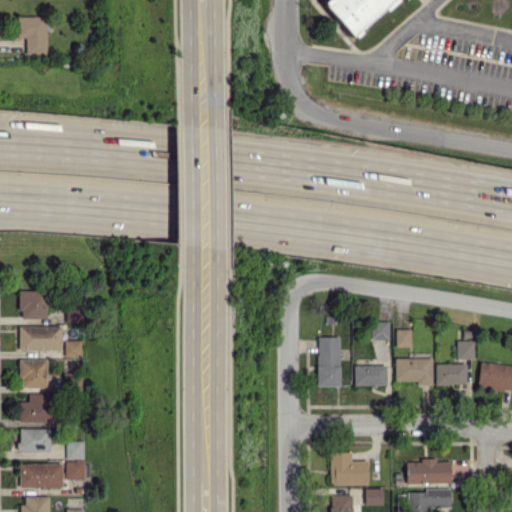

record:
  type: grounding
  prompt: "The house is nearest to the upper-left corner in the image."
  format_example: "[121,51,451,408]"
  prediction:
[20,16,48,54]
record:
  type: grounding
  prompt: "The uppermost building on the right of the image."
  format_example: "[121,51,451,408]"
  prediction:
[329,0,404,39]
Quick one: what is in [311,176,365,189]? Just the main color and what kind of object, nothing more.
white vehicle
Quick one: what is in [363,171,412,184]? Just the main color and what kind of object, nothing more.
white vehicle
